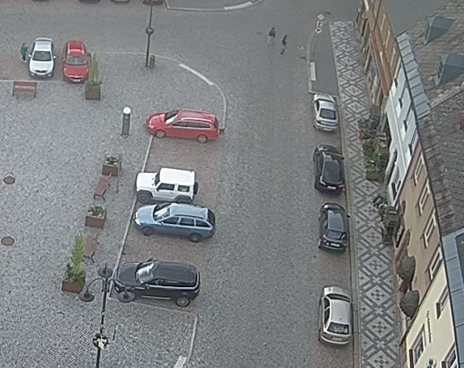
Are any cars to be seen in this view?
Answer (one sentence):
Yes, there's a car down there.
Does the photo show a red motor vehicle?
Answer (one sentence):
Yes, the picture does show a red motor vehicle.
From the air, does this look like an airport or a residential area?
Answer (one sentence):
This image shows a residential area.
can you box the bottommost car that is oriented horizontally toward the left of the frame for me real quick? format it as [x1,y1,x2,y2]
[116,263,198,305]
